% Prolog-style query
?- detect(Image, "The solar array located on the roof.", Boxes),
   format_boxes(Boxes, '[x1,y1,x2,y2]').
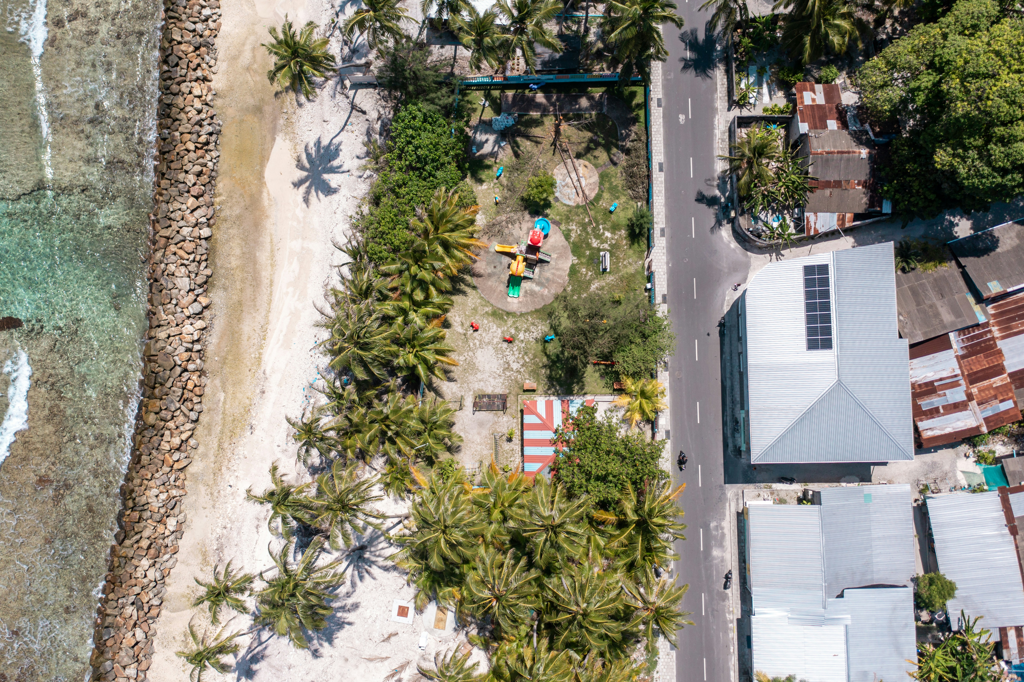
[803,264,833,350]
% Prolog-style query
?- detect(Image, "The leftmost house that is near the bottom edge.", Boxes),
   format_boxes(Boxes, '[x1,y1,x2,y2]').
[742,484,918,682]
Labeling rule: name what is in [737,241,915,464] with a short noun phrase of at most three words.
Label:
house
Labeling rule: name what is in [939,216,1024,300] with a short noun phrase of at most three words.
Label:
house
